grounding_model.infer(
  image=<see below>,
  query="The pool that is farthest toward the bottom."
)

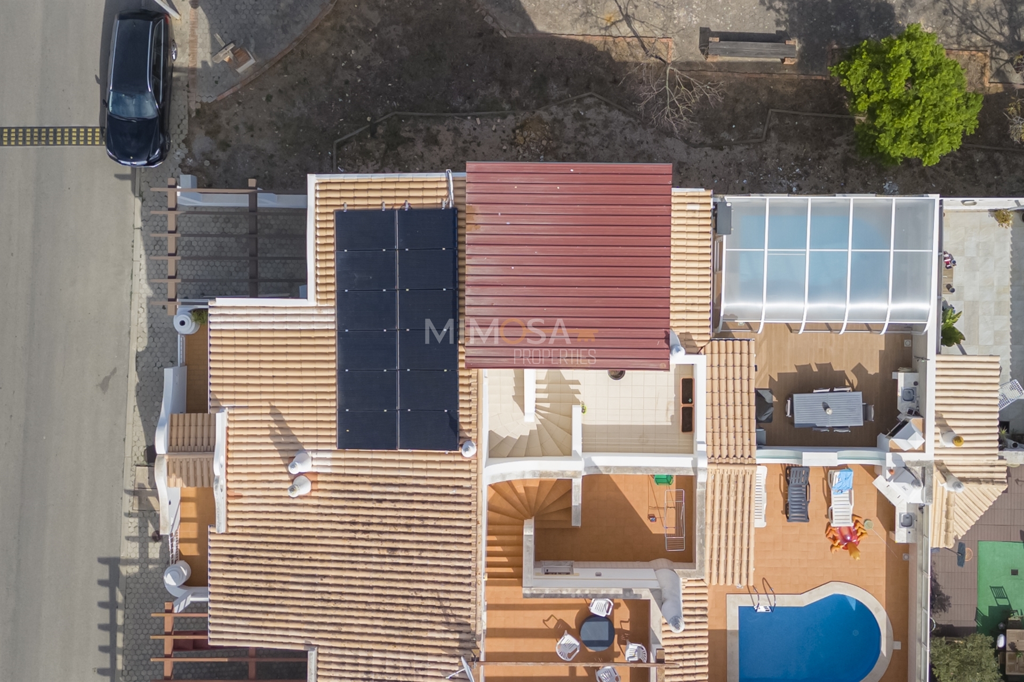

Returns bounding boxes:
[727,582,893,682]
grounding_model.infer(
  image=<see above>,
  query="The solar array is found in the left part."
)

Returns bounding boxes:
[336,203,458,453]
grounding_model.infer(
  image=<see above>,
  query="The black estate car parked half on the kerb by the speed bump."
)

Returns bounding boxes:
[96,9,174,168]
